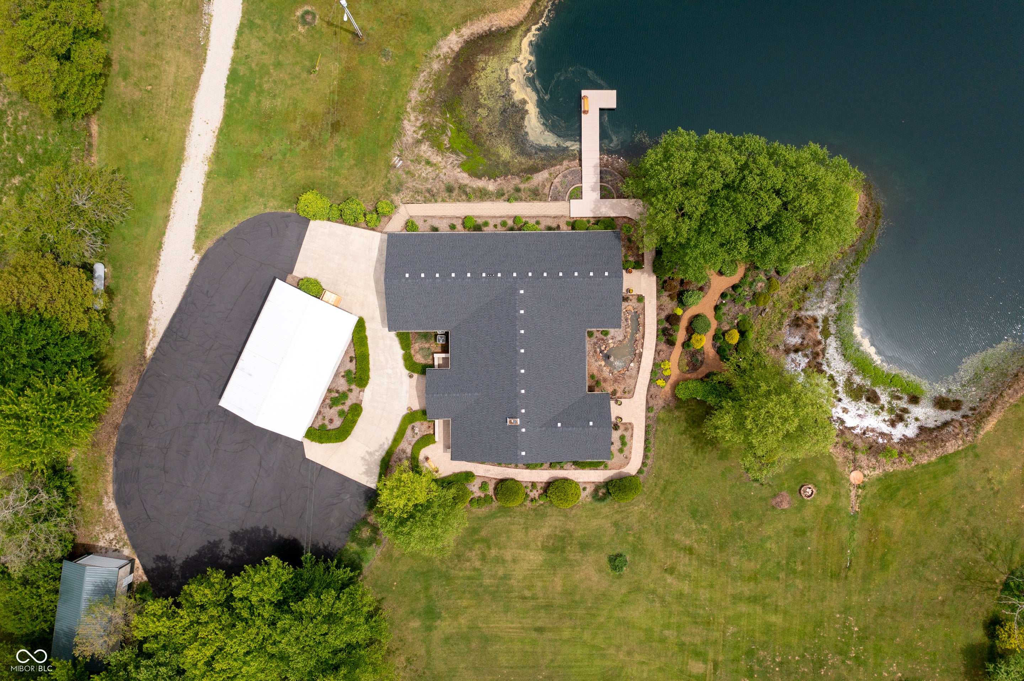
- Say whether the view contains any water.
Yes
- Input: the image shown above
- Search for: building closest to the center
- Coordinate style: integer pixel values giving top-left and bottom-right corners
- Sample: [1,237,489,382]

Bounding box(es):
[384,229,623,464]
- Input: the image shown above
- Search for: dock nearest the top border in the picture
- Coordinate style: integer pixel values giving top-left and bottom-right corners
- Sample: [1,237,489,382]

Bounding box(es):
[581,90,616,199]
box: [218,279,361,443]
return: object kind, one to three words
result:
building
